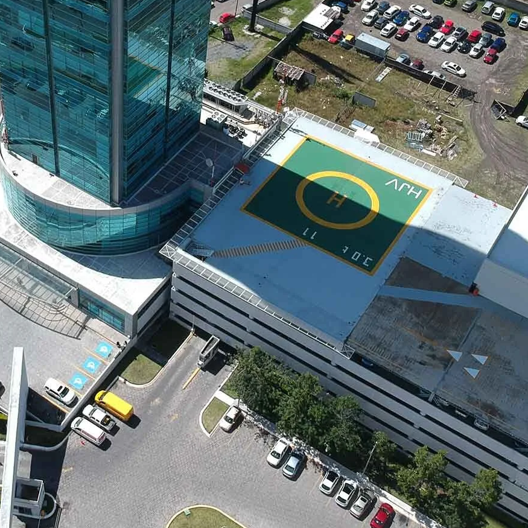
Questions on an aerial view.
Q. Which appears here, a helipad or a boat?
helipad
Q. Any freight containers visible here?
Yes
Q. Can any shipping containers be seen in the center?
No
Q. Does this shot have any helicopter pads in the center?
Yes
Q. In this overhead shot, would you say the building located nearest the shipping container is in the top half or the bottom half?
top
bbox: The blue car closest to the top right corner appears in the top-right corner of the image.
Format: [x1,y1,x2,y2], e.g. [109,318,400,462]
[507,12,520,25]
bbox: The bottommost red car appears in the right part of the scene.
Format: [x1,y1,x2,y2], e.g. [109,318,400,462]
[369,500,397,528]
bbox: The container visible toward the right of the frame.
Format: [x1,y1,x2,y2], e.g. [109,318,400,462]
[355,28,392,54]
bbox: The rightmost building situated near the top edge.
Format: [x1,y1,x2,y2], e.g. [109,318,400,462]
[302,4,341,42]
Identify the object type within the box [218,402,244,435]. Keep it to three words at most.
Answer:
car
